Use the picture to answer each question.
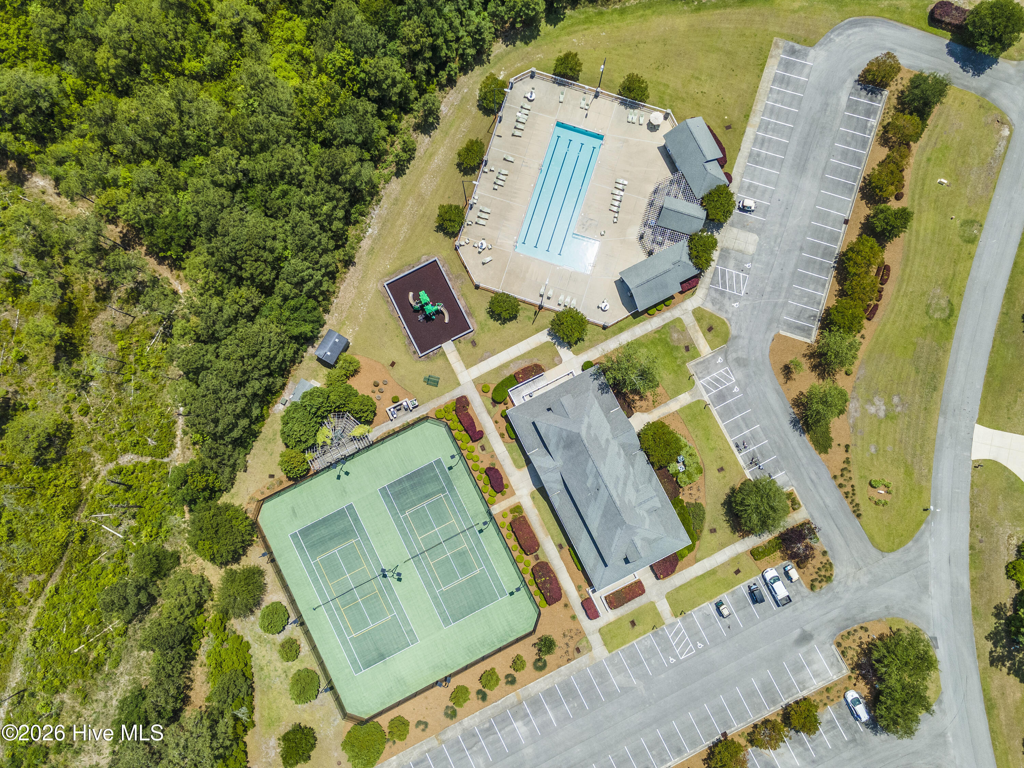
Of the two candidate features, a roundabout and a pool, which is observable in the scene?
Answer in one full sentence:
There is a pool in the scene.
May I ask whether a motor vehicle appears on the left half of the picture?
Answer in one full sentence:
No, looking on the left half of the picture, there is no motor vehicle.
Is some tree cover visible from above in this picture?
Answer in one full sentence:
Yes, there's tree cover in this view.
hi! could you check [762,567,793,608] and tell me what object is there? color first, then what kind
white truck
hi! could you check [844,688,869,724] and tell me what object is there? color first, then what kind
white car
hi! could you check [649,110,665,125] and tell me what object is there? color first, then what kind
white umbrella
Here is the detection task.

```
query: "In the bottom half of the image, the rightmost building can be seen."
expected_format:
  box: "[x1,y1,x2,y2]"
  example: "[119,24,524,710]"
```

[505,365,692,592]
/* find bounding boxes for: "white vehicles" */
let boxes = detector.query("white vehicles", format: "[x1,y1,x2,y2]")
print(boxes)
[715,600,732,618]
[738,201,756,213]
[762,567,793,608]
[844,688,869,724]
[783,565,800,582]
